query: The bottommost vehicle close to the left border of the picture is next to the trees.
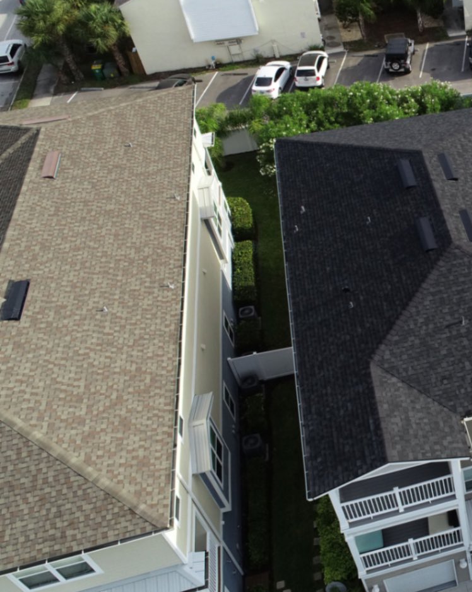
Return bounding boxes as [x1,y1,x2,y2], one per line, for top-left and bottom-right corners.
[0,43,29,80]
